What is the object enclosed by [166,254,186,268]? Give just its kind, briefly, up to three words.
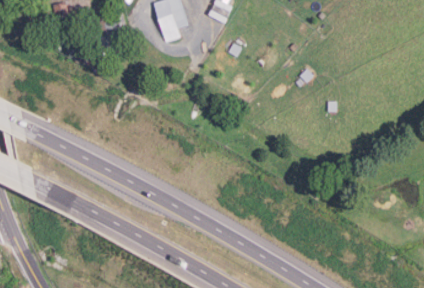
vehicle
